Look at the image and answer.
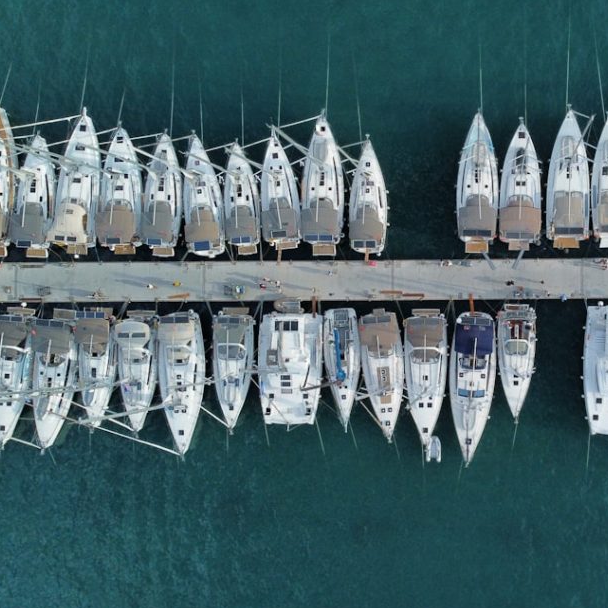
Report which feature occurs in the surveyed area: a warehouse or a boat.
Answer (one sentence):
The image shows a boat.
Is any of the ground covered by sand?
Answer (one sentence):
No, there's no sand in this view.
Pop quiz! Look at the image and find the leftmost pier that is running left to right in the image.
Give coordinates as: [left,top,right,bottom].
[14,259,203,303]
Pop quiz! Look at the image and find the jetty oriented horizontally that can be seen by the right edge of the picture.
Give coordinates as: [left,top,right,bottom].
[393,257,584,300]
